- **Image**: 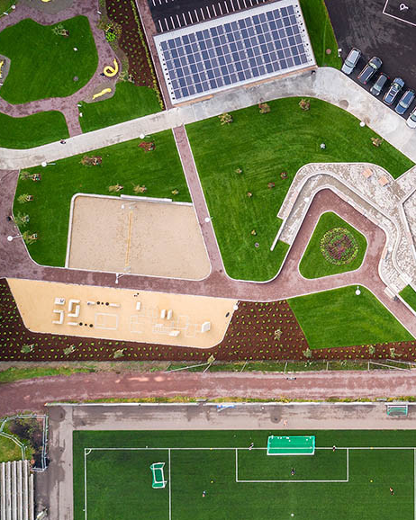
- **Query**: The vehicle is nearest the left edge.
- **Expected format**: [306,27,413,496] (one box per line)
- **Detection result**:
[342,47,361,75]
